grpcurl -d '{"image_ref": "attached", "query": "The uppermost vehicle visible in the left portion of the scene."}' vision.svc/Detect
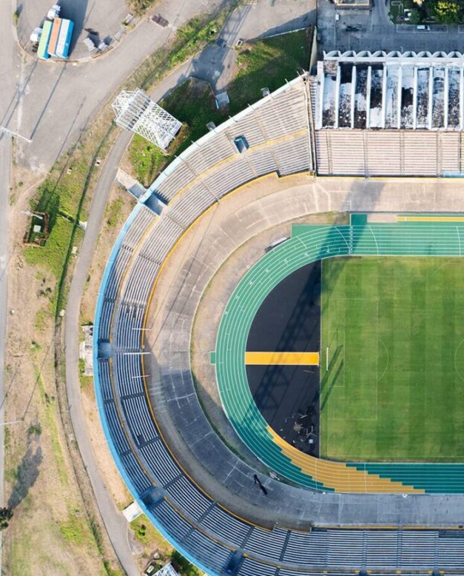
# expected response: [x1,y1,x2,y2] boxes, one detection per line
[46,5,61,22]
